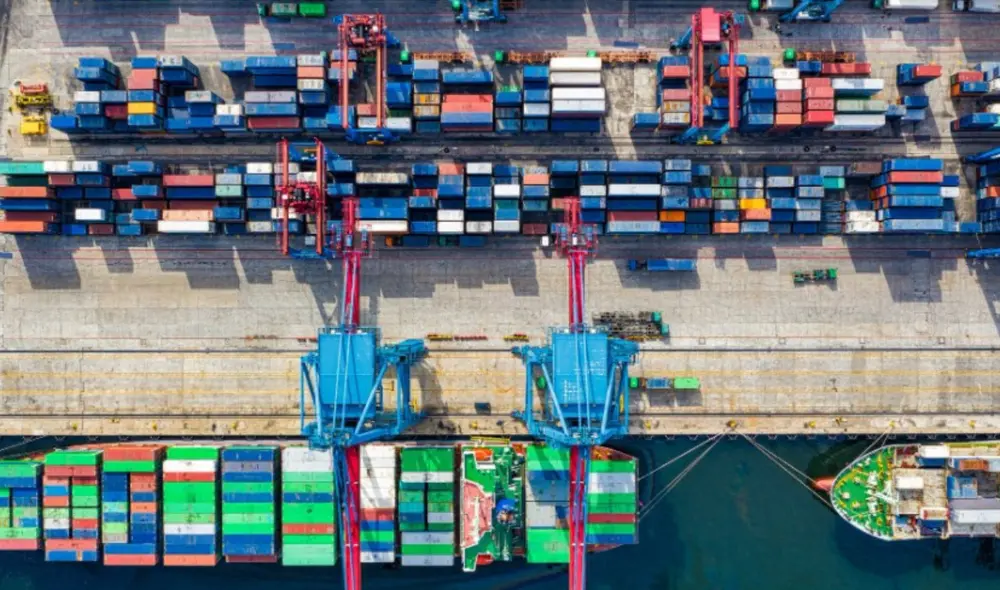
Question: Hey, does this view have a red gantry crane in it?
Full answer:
Yes, the picture does show a red gantry crane.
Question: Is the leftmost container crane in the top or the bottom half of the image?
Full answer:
The leftmost container crane sits in the top half of the picture.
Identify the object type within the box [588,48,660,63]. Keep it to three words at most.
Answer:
vehicle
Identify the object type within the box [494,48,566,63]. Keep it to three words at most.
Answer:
vehicle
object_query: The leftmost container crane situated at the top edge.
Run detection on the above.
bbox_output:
[339,13,406,148]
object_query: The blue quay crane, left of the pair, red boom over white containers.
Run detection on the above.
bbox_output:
[300,195,436,590]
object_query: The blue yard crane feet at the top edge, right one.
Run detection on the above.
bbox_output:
[774,0,847,21]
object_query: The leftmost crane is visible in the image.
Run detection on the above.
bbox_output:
[278,138,353,260]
